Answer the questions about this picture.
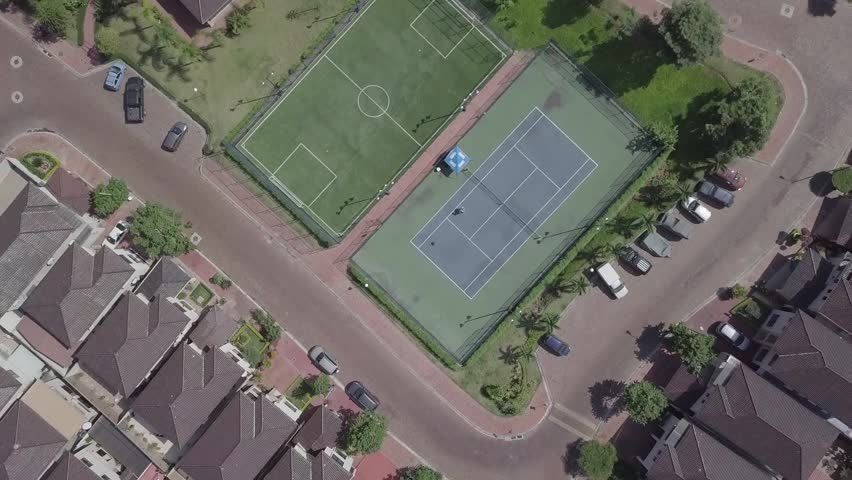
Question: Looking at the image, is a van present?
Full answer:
Yes, the image includes a van.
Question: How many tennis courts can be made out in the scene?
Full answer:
The picture shows 2 tennis courts.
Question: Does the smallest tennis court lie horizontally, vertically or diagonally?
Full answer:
What the image shows is the smallest tennis court lying diagonally.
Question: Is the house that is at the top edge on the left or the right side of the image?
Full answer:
The house that is at the top edge sits on the left side.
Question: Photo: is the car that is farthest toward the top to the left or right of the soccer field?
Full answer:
From the viewer's perspective, the car that is farthest toward the top falls to the left of the soccer field.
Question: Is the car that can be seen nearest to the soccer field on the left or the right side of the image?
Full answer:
The car that can be seen nearest to the soccer field appears in the left half of the scene.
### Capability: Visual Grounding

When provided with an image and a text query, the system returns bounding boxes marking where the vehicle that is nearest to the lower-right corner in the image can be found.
[714,320,750,351]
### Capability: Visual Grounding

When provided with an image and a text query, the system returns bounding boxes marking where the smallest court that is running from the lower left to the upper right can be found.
[419,116,589,290]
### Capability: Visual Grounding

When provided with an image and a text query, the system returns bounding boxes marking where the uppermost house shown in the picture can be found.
[178,0,240,33]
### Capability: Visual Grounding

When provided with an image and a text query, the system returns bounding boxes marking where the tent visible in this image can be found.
[444,147,470,173]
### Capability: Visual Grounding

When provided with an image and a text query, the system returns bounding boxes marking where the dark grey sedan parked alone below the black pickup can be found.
[161,119,190,155]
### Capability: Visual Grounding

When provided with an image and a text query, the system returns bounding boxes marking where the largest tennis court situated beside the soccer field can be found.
[351,47,647,359]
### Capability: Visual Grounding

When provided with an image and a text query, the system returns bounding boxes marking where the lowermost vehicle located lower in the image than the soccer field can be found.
[344,379,379,408]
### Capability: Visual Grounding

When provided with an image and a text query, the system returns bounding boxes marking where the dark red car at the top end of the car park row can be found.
[711,166,748,190]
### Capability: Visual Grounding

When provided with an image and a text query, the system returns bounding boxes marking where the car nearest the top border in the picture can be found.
[105,62,127,94]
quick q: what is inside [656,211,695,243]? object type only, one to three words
truck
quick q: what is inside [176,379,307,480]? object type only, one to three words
house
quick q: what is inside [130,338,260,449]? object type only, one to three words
house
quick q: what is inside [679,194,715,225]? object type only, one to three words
car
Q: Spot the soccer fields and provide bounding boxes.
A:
[238,0,512,240]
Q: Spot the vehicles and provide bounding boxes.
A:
[123,78,146,123]
[711,166,748,190]
[617,245,654,275]
[105,62,127,94]
[161,119,190,155]
[696,181,737,207]
[714,320,750,351]
[307,344,339,376]
[541,332,574,358]
[597,262,628,299]
[679,194,715,225]
[656,211,695,243]
[102,216,131,249]
[344,379,379,408]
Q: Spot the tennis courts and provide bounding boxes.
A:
[419,116,589,290]
[351,47,647,359]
